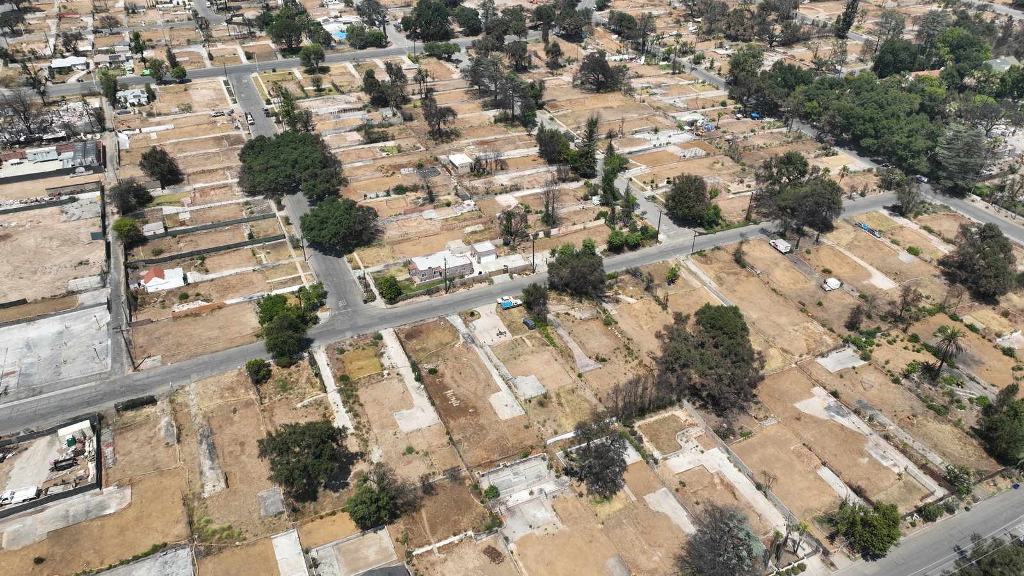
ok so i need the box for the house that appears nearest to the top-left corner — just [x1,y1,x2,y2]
[52,58,88,75]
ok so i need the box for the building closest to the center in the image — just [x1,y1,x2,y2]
[472,239,496,260]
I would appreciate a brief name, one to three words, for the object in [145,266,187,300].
house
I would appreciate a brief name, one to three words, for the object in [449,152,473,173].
building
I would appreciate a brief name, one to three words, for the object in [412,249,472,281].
house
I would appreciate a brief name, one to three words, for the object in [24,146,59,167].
shed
